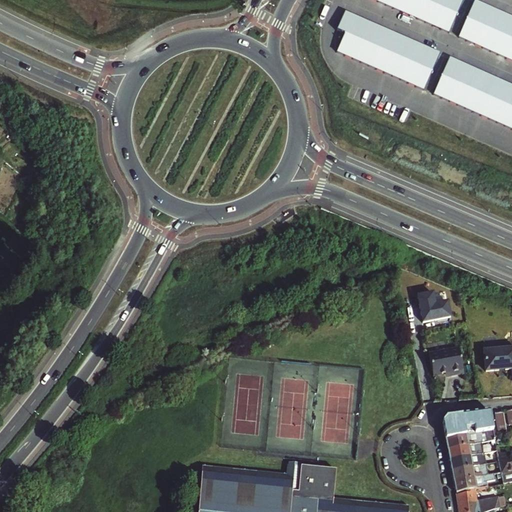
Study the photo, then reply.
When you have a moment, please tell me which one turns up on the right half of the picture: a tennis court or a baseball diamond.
tennis court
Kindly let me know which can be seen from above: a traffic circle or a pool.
traffic circle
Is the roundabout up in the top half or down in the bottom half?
top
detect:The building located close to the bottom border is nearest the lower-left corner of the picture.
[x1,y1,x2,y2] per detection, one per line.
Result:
[198,465,287,512]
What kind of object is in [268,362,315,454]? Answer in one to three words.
tennis court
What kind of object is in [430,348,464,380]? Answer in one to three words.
house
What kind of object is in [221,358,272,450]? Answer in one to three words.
tennis court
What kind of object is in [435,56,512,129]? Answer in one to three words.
building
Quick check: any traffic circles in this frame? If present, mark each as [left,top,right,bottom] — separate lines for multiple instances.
[111,28,308,226]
